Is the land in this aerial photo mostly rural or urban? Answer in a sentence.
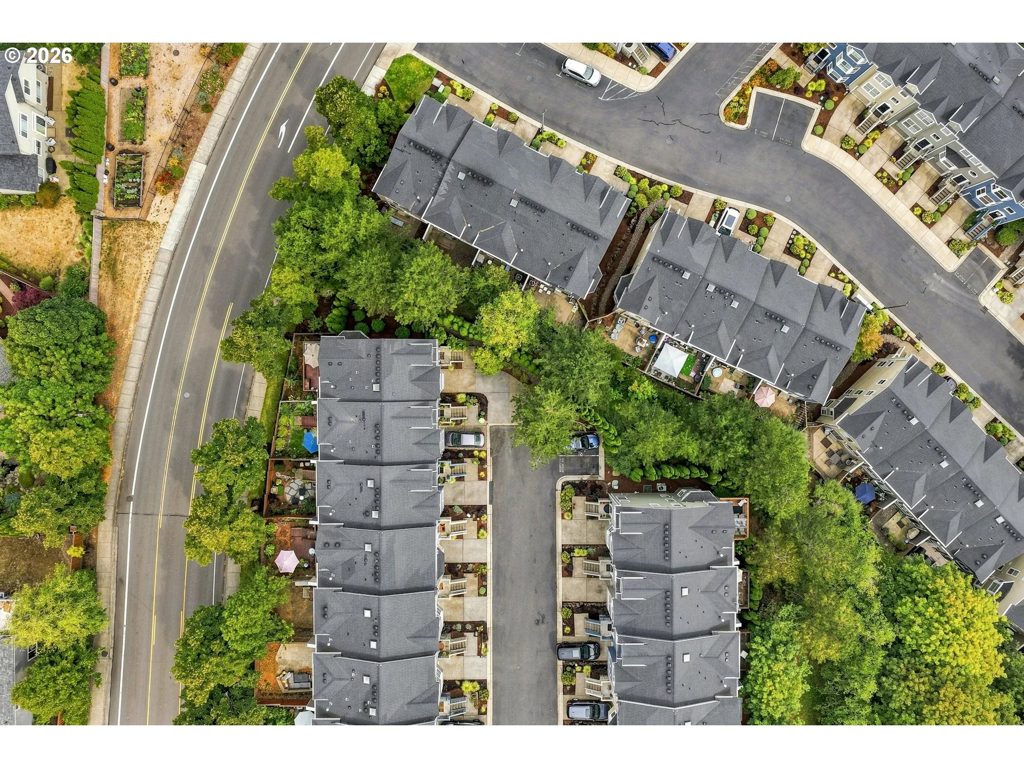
The area shown here is urban.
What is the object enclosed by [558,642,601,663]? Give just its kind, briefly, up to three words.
car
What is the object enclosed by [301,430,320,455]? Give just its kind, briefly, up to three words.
umbrella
